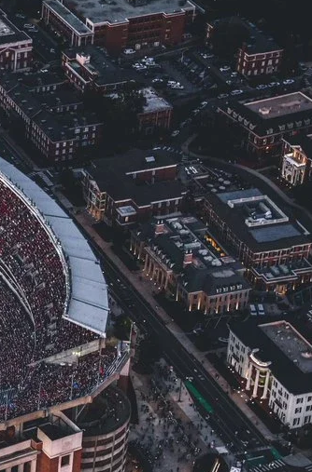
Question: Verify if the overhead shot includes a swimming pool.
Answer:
No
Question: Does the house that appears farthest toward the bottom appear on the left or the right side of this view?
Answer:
right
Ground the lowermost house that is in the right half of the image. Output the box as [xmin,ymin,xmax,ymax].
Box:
[224,316,312,428]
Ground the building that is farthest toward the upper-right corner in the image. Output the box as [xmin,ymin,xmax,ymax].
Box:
[205,16,284,74]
